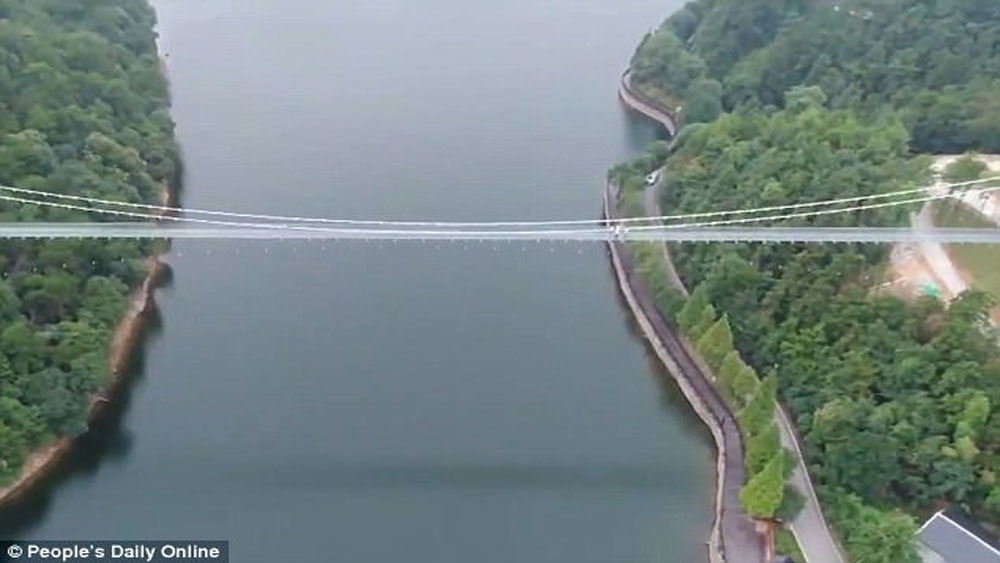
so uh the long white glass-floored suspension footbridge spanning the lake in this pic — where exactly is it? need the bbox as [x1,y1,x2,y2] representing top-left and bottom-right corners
[0,178,1000,299]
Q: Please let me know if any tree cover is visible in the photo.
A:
Yes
